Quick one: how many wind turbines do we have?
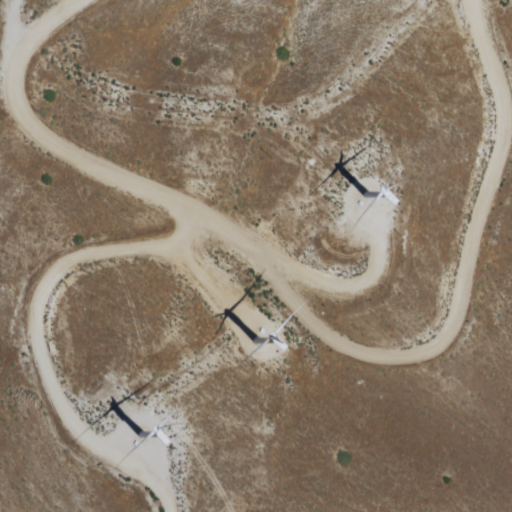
three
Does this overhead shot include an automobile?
No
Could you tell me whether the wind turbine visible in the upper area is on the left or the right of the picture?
right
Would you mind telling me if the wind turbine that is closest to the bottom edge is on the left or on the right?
left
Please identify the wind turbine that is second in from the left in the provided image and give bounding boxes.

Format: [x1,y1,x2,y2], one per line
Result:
[237,295,300,356]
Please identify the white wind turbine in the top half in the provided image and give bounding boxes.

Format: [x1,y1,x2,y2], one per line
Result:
[346,166,408,224]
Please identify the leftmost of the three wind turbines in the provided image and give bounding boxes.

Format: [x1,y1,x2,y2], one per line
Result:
[115,400,174,462]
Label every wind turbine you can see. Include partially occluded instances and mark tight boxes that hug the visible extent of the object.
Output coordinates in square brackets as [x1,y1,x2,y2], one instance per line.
[346,166,408,224]
[237,295,300,356]
[115,400,174,462]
